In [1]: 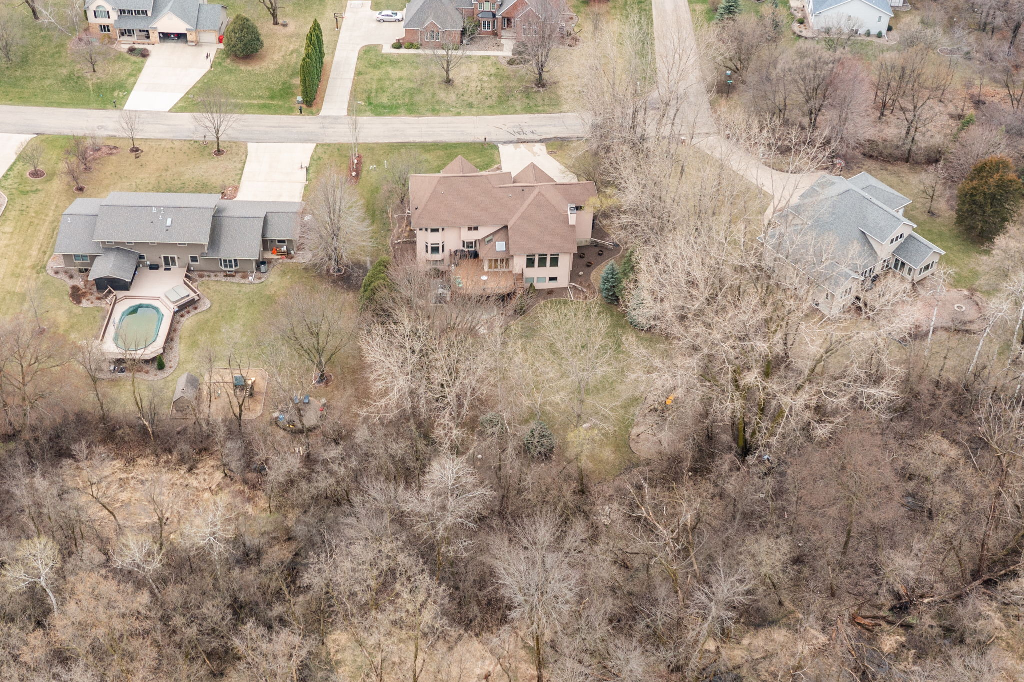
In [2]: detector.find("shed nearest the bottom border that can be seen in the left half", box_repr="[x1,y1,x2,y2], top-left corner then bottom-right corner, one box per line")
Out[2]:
[166,375,199,418]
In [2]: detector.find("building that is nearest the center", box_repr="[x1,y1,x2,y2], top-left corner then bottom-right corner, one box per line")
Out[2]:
[408,154,619,299]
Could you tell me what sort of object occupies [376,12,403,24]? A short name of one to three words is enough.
vehicle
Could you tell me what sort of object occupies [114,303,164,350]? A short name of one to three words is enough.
swimming pool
